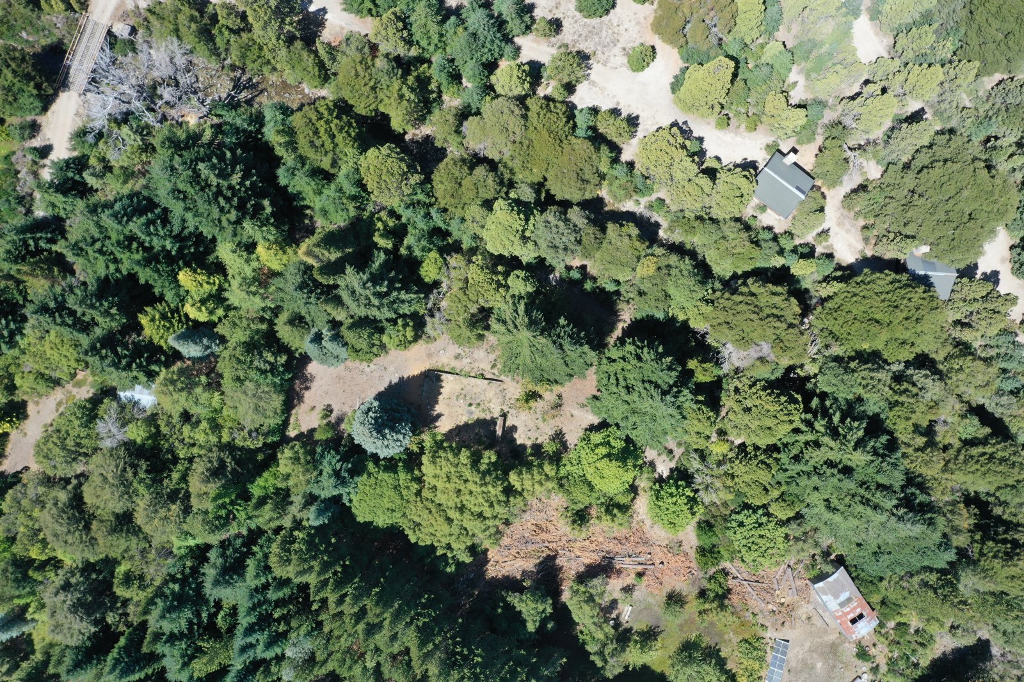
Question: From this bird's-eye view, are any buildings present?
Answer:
Yes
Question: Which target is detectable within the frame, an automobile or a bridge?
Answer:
bridge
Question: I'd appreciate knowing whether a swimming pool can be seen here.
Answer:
No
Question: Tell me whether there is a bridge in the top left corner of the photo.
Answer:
Yes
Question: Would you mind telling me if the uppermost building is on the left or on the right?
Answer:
right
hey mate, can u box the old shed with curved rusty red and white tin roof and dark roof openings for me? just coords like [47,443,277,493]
[809,562,879,641]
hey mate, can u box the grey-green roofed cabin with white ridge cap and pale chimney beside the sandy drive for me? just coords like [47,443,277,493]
[751,151,815,219]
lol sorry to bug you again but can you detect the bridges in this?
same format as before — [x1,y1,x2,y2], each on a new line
[54,11,108,96]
